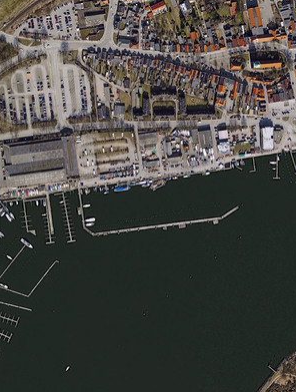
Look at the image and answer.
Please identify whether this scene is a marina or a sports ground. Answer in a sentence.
The picture captures a marina.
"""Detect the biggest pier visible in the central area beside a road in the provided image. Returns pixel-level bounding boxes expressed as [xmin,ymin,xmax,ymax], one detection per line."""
[78,191,238,236]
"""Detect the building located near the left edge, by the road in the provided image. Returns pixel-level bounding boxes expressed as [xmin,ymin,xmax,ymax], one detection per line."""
[2,136,68,191]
